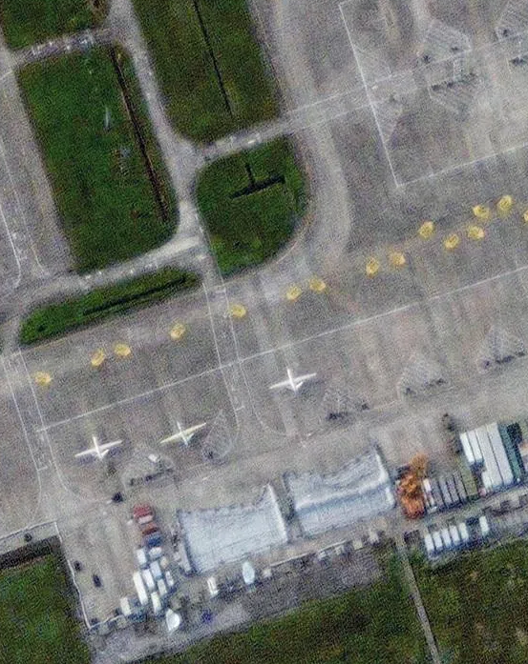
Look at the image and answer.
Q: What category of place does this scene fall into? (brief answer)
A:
airport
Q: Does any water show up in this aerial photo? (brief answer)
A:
No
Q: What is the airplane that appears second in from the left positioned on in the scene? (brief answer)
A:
apron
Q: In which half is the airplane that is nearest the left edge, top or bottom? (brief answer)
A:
bottom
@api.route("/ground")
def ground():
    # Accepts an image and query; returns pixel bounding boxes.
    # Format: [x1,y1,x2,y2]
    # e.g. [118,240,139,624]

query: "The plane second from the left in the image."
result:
[161,422,206,447]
